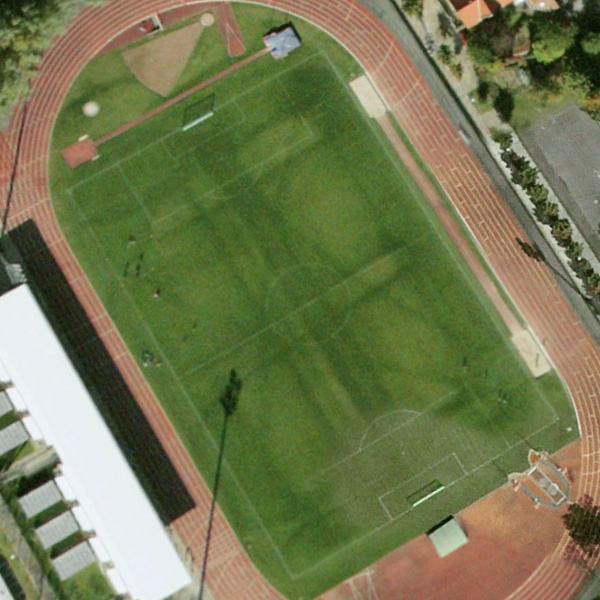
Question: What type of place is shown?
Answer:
sports ground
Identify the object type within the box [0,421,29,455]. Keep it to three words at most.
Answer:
shed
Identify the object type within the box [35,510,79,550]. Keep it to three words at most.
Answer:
shed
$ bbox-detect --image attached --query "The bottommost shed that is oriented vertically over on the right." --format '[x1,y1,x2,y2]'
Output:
[513,25,530,57]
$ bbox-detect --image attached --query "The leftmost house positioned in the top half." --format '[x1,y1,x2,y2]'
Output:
[448,0,493,28]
